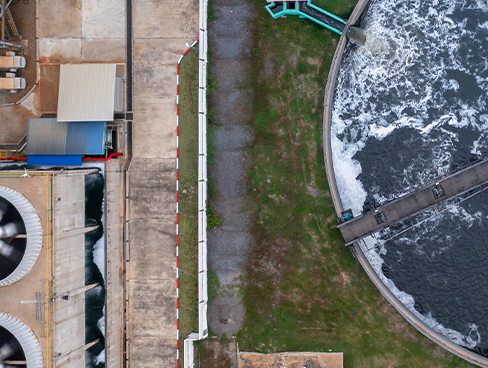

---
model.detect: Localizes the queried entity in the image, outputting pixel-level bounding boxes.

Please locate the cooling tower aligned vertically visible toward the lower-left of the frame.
[0,168,99,368]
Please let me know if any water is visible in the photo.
Yes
